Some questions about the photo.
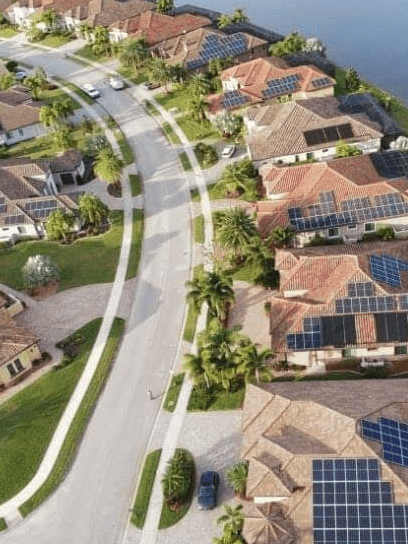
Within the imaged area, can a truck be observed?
No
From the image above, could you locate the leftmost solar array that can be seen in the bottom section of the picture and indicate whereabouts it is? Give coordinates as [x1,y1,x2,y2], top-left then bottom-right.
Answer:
[289,316,321,350]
